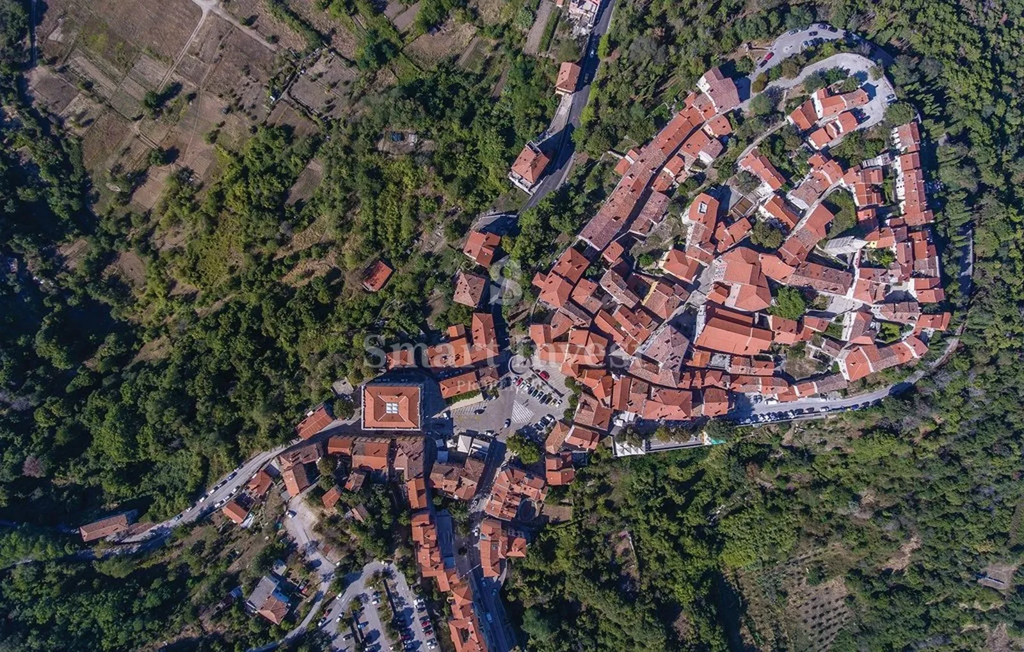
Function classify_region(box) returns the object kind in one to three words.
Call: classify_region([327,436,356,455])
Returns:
house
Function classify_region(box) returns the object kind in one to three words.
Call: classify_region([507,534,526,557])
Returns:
house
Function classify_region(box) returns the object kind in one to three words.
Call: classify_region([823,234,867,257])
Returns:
building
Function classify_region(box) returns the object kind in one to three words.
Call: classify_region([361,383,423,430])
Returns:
building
